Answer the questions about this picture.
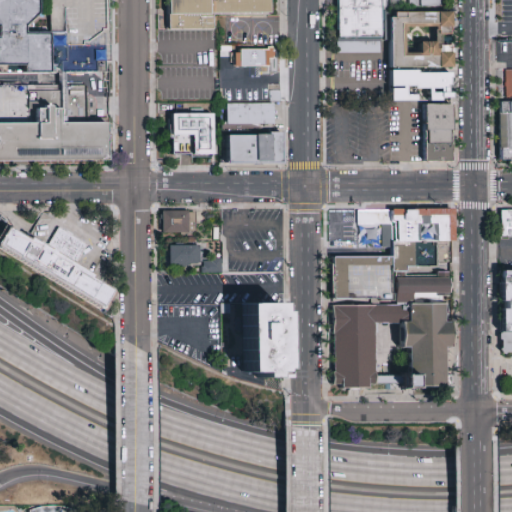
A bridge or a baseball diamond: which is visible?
bridge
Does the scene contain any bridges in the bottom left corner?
Yes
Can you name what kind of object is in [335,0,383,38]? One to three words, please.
building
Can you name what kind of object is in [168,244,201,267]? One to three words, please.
house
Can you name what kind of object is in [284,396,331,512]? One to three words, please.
bridge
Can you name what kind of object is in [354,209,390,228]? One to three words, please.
building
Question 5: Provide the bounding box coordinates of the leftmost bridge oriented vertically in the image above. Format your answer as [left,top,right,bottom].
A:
[114,328,160,508]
